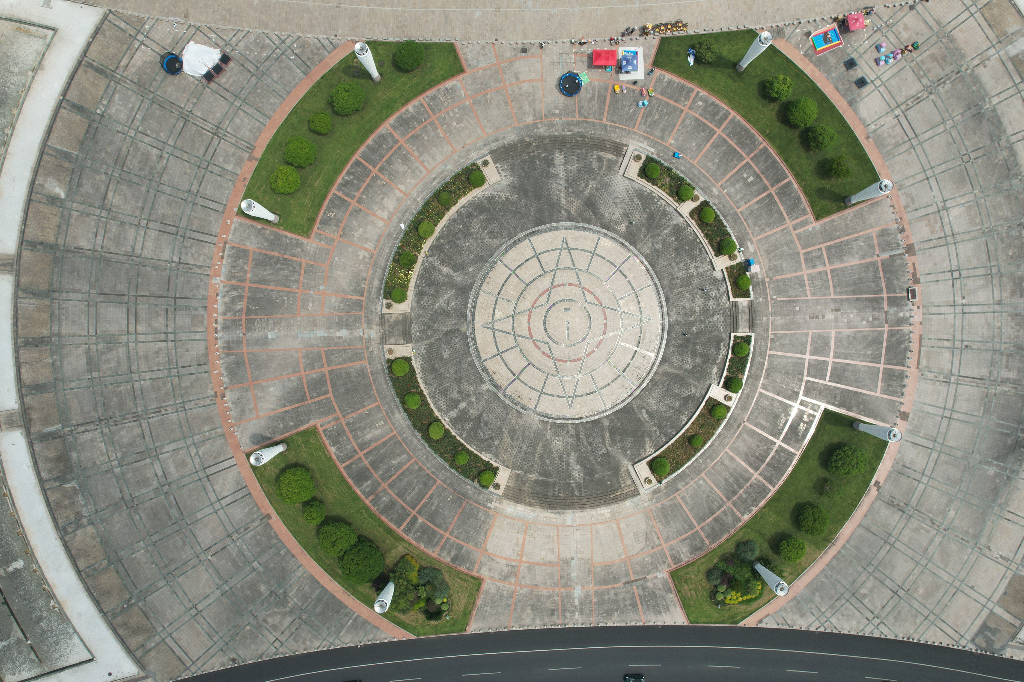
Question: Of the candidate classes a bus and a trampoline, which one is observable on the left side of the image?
trampoline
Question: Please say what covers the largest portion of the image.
paved ground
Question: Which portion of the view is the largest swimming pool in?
top right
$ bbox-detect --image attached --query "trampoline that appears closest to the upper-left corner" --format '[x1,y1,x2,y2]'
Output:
[159,52,182,75]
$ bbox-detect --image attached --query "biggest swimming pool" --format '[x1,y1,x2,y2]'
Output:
[812,28,840,51]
